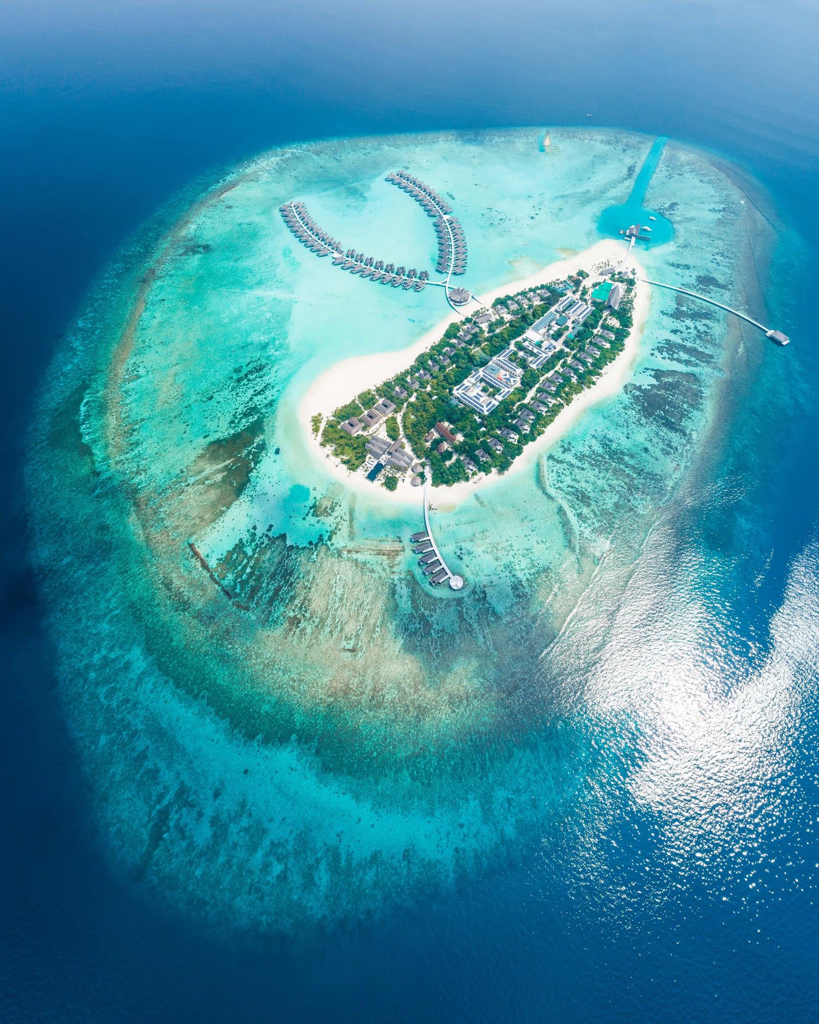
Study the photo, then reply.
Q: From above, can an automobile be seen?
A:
No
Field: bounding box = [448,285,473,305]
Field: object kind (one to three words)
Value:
building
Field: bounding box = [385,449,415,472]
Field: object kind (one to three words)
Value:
building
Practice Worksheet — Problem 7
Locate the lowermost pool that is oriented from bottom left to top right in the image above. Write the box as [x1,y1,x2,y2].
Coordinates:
[364,460,386,484]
